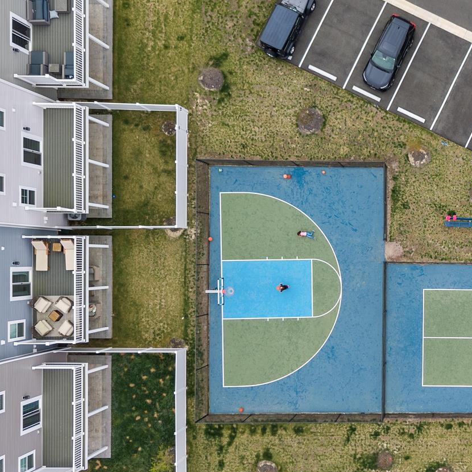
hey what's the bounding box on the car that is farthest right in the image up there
[364,13,417,91]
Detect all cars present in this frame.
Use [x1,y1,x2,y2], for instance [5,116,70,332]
[364,13,417,91]
[257,0,315,59]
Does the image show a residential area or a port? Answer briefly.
residential area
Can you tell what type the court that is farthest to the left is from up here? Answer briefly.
basketball court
